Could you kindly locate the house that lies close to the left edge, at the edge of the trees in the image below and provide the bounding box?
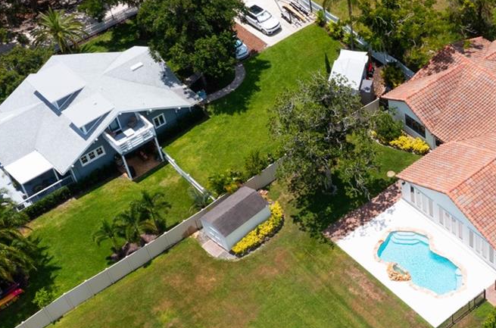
[0,46,193,213]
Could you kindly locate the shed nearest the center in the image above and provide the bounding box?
[195,182,272,256]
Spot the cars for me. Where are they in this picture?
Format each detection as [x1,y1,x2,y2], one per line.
[243,0,283,32]
[223,33,249,64]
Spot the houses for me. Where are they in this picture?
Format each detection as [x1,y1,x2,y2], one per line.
[375,39,496,269]
[0,46,193,213]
